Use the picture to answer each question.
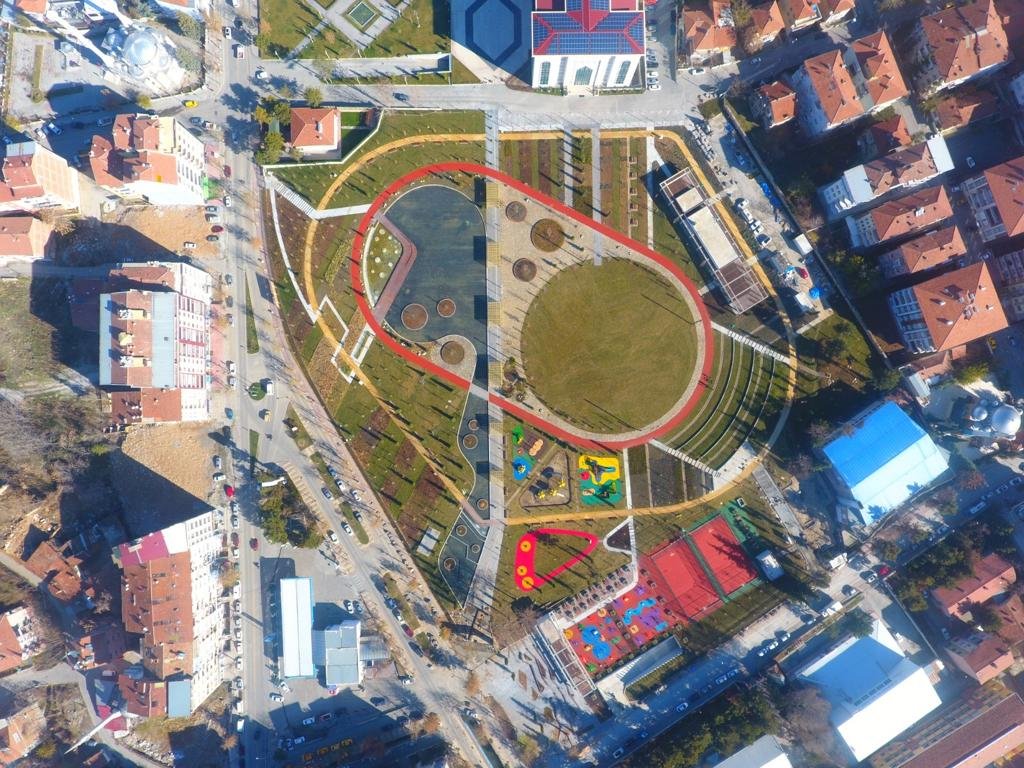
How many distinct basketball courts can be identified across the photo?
2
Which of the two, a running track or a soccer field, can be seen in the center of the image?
running track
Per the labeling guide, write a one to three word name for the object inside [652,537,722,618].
basketball court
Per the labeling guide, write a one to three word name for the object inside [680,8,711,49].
house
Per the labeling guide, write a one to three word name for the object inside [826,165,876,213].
building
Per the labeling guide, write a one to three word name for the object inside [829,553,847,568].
vehicle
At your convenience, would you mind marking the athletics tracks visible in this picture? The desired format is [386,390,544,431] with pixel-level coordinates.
[351,161,714,450]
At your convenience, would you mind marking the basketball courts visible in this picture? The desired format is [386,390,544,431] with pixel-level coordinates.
[652,537,722,618]
[684,501,765,604]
